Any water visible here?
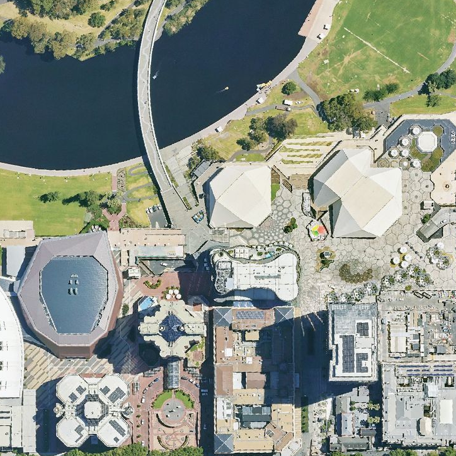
Yes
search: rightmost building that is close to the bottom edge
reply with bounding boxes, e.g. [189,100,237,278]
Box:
[382,361,456,447]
